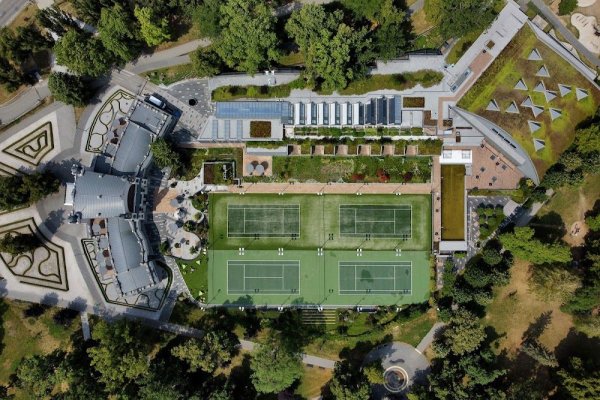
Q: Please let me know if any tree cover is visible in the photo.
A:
Yes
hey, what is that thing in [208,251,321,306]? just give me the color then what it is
green tennis court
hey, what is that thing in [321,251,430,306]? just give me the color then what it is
green tennis court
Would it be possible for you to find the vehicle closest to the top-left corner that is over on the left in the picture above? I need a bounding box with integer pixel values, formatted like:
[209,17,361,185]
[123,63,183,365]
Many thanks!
[148,95,168,111]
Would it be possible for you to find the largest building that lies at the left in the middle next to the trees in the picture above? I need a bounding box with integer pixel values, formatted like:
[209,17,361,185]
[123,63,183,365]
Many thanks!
[62,100,180,295]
